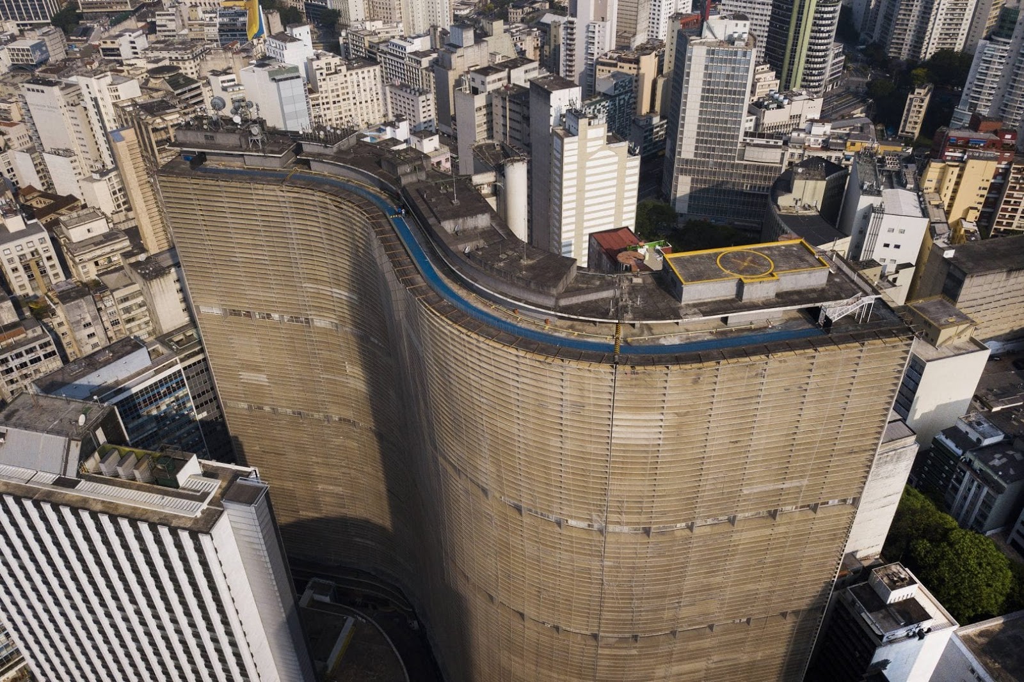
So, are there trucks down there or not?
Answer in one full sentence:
No, no truck is visible in the view.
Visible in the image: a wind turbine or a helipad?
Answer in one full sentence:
Looking from above, you can make out a helipad.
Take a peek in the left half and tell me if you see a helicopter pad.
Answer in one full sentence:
No, there's no helicopter pad to be seen in the left half.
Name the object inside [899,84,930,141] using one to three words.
building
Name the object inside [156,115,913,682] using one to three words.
building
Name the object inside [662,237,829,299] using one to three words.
helipad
